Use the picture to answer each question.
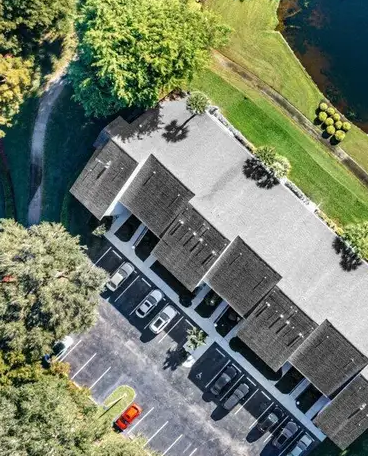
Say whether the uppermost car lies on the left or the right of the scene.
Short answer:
left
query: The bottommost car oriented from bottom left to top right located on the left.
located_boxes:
[114,401,144,431]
